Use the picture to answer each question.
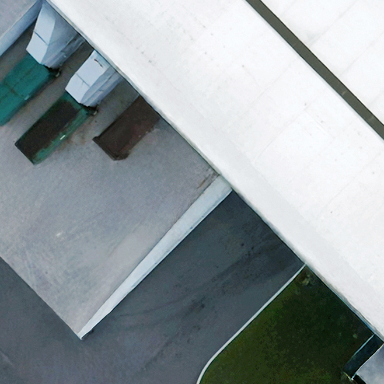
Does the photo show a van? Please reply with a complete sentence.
No, I can see no van in this picture.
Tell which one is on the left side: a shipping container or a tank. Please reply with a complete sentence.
Visible on the left side is a shipping container.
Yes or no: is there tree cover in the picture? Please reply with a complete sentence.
No, there is no tree cover in the image.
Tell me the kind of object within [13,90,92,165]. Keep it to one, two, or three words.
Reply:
shipping container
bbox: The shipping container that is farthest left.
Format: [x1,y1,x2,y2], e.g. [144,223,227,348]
[0,49,51,128]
